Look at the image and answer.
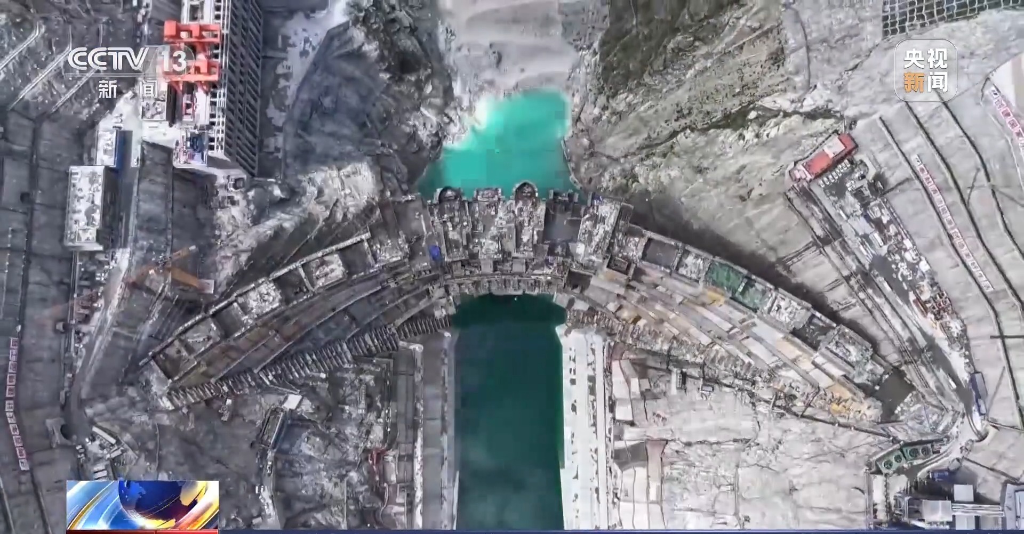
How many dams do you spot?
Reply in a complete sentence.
There is 1 dam in the image.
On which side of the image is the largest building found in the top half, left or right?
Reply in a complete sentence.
You can find the largest building found in the top half on the left side of the picture.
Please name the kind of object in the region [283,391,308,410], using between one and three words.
shed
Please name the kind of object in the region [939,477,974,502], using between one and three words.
building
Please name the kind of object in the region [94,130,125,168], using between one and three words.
building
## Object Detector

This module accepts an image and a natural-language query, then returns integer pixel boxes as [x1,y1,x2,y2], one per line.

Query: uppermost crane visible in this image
[161,18,225,56]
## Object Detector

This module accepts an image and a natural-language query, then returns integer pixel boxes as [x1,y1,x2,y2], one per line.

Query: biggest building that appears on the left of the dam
[63,165,117,250]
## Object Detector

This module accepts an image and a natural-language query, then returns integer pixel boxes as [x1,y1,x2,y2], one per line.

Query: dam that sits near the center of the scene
[150,183,893,431]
